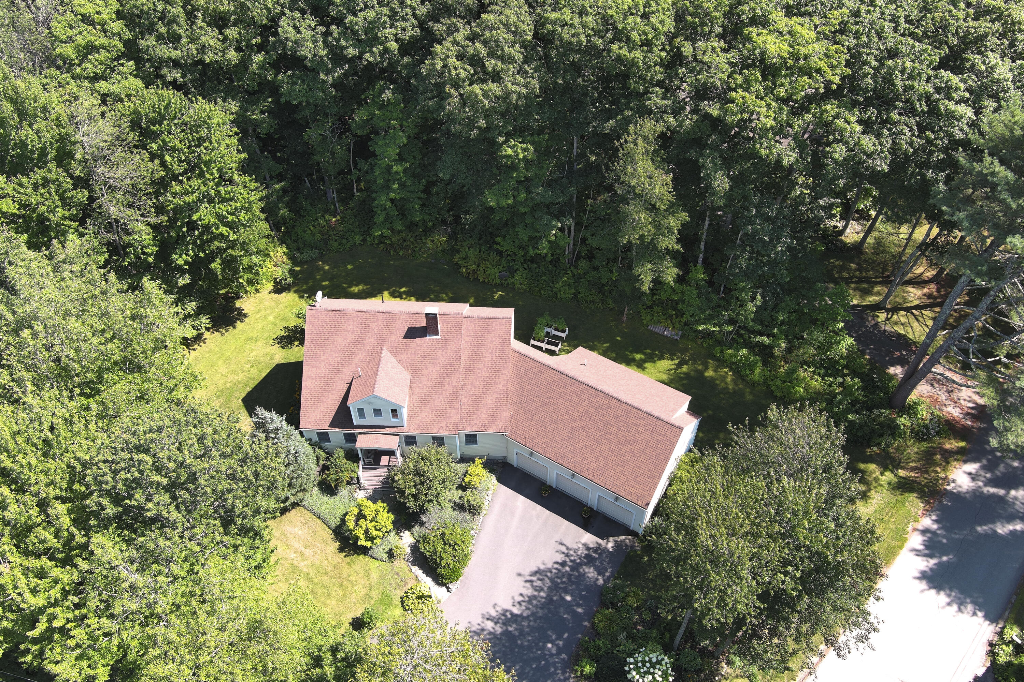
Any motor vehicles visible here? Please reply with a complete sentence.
No, the scene contains no motor vehicle.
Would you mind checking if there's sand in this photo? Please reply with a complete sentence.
No, the picture contains no sand.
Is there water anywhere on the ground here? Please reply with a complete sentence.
No, the picture contains no water.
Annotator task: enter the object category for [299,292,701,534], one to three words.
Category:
house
